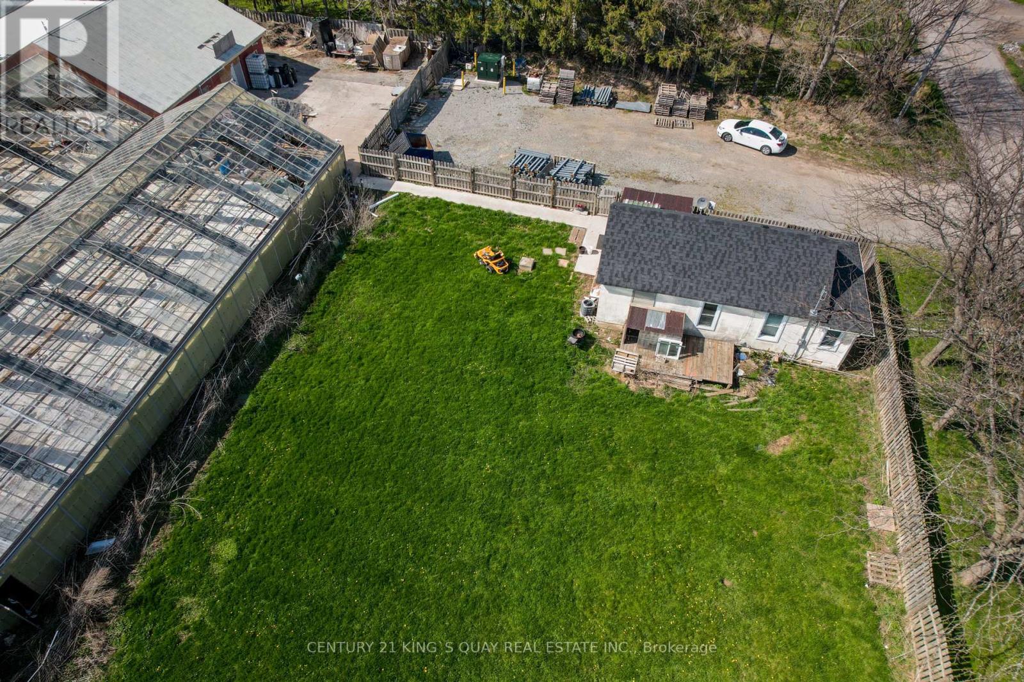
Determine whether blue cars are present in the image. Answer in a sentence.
No, the frame has no blue car in it.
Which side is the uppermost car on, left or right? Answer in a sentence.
The uppermost car sits on the right side.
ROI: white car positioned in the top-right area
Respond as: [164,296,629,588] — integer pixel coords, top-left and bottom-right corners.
[715,120,793,158]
